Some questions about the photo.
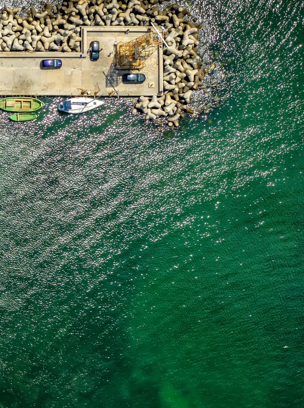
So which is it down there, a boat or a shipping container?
boat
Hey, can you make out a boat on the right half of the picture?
No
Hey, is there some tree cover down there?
No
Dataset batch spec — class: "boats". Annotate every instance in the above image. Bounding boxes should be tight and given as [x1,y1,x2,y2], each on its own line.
[56,92,105,114]
[0,96,46,113]
[10,113,40,121]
